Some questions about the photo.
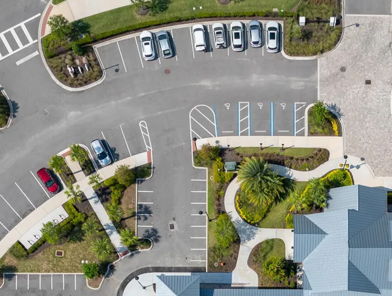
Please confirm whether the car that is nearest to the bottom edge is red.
Yes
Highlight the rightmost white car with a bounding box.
[265,22,280,55]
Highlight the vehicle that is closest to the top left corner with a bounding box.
[139,31,156,62]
